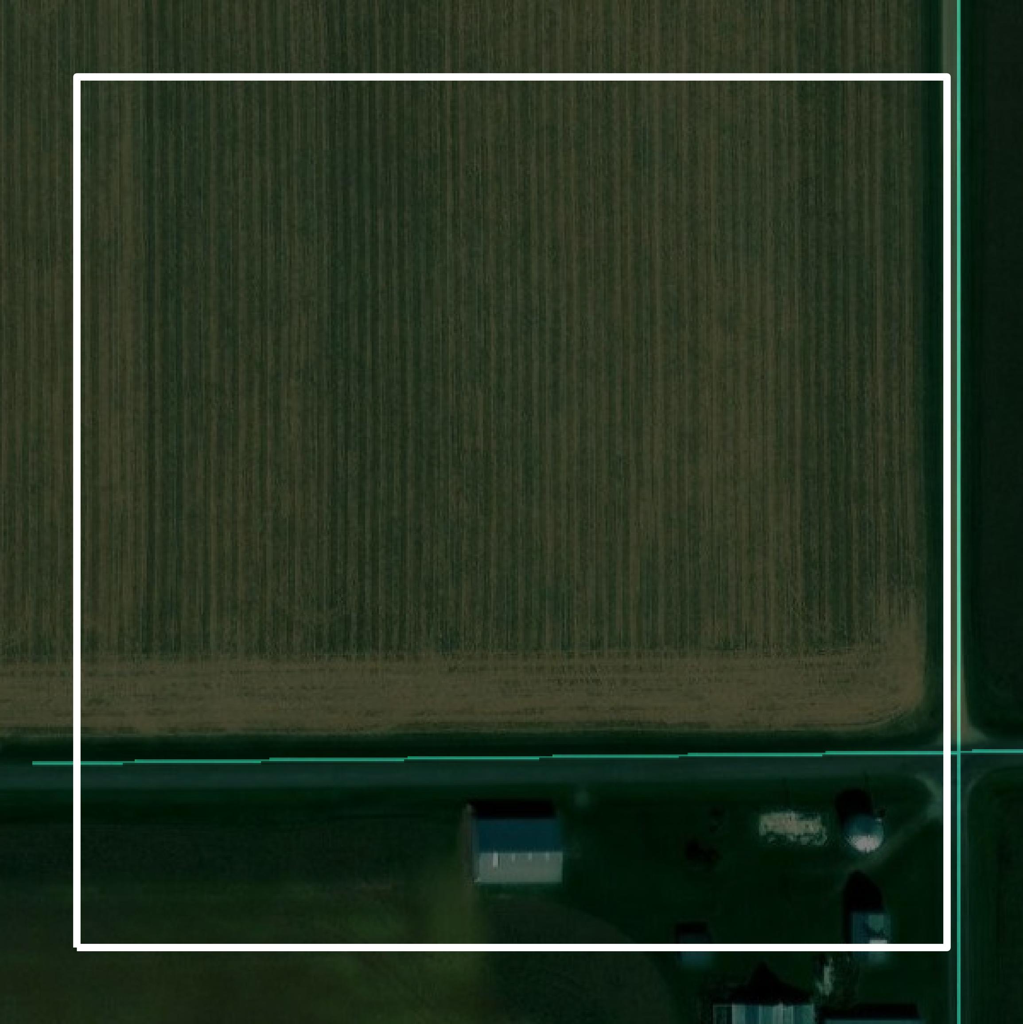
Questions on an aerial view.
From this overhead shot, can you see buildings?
Yes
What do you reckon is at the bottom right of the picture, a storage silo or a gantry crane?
storage silo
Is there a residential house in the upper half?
No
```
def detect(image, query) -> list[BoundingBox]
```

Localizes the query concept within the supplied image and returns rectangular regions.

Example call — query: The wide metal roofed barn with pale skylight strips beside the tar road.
[472,818,563,883]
